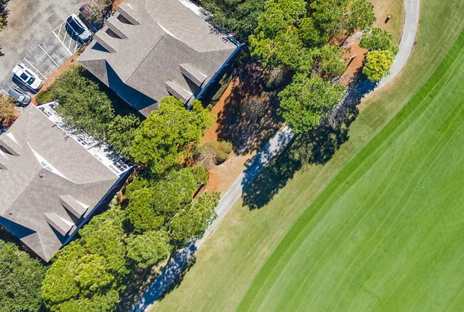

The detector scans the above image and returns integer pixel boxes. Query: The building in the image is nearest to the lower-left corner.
[0,96,136,263]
